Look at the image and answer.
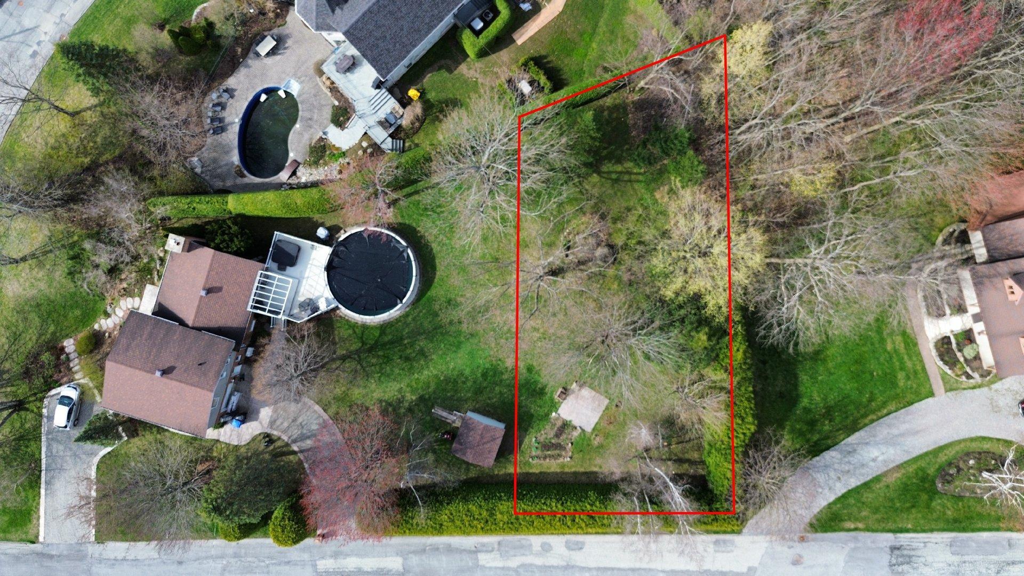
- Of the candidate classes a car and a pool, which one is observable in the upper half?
pool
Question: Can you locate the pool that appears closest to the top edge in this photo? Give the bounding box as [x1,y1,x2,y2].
[235,75,304,180]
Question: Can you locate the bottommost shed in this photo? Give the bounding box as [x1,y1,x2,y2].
[452,412,505,468]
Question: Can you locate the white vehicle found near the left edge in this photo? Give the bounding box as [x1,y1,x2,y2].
[48,385,81,431]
